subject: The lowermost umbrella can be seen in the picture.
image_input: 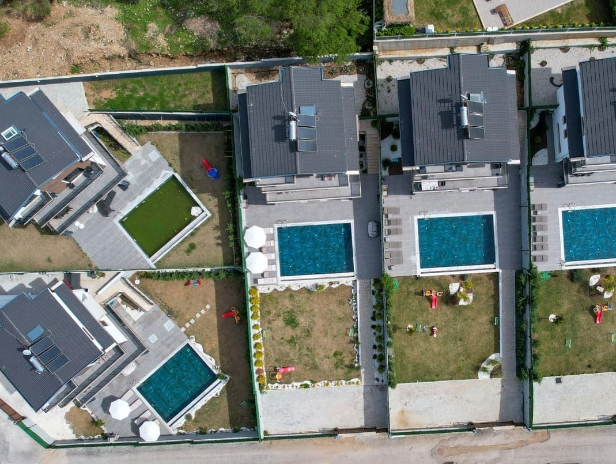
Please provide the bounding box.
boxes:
[138,420,161,441]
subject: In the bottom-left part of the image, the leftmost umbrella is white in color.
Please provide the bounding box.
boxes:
[109,398,131,420]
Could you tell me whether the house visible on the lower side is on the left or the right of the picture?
left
